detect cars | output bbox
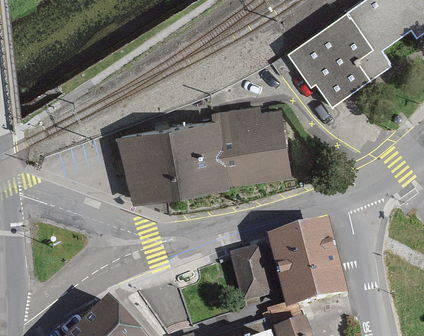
[241,79,262,96]
[59,313,82,334]
[310,101,332,125]
[258,66,280,88]
[294,76,312,97]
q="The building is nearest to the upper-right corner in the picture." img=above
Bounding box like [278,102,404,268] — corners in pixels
[348,0,424,82]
